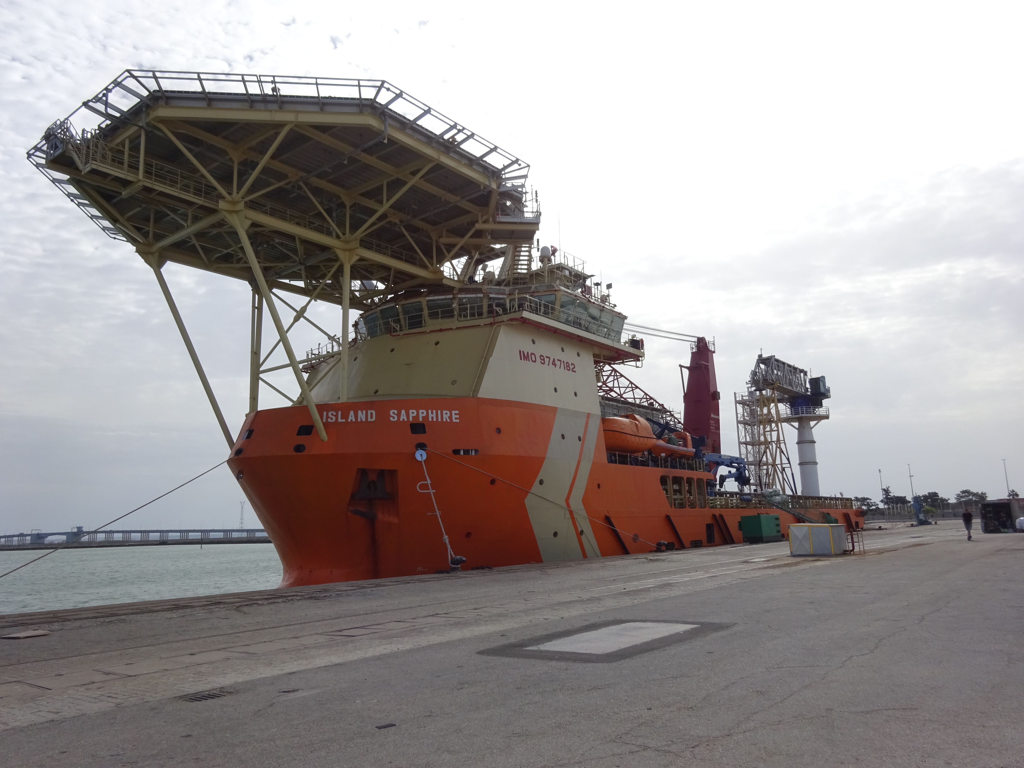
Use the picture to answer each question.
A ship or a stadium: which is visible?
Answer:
ship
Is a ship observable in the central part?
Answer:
Yes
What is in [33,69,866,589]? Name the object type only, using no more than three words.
ship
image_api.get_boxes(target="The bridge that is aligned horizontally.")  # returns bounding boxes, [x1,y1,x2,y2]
[0,521,263,543]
